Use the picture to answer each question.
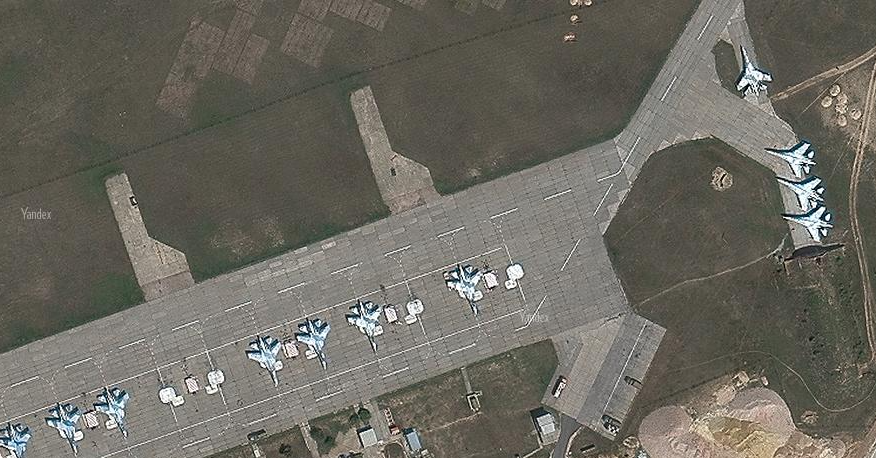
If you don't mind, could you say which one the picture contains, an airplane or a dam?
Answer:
airplane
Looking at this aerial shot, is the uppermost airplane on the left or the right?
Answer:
right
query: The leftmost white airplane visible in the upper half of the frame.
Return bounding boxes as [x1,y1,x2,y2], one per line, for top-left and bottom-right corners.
[735,46,772,99]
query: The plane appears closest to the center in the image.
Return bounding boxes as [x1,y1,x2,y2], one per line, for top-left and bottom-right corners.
[446,263,482,316]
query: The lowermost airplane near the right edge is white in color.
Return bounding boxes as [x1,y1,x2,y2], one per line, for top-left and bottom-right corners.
[780,205,835,241]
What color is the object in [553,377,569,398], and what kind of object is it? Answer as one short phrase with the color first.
white vehicle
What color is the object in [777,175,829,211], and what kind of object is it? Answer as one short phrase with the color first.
white airplane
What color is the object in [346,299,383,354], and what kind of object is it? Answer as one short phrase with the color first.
white airplane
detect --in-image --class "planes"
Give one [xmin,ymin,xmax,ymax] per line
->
[94,385,130,438]
[246,333,282,386]
[346,299,383,354]
[777,175,829,211]
[763,140,819,177]
[294,316,331,369]
[735,46,772,99]
[45,402,82,455]
[0,420,32,458]
[780,205,835,241]
[446,263,482,316]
